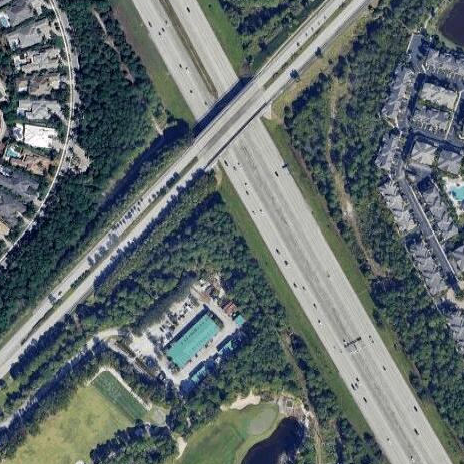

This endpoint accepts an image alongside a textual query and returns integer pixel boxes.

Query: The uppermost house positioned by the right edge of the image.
[425,41,464,81]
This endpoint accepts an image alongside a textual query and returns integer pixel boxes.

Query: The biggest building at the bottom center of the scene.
[164,315,220,367]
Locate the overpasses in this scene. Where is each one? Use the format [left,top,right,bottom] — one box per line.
[190,75,273,160]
